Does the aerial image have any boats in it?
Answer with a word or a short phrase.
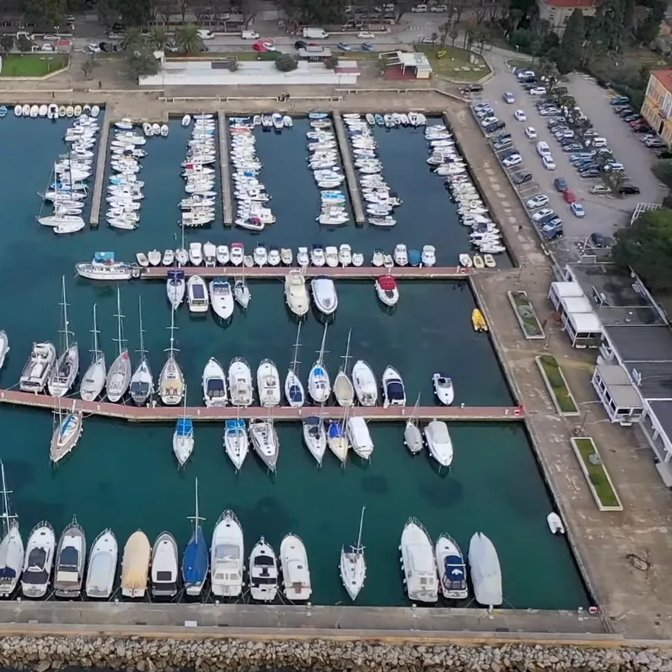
Yes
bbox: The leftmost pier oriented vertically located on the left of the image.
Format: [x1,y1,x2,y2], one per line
[90,103,110,227]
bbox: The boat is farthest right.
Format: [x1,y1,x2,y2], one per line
[550,514,564,535]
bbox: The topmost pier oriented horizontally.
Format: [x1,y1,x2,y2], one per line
[139,267,469,280]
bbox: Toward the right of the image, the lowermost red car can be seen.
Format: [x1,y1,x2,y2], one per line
[563,188,577,202]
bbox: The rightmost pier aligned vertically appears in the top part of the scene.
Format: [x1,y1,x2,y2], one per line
[334,113,363,224]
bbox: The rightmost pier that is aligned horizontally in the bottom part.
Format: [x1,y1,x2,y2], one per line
[123,407,524,421]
